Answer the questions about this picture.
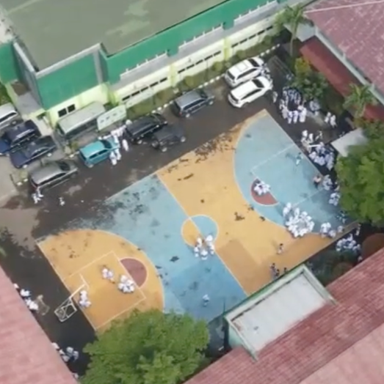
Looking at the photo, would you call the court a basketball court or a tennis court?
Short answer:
basketball court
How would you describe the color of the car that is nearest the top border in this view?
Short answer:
white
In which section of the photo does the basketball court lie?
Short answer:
center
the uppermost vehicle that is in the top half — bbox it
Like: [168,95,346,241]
[221,60,266,87]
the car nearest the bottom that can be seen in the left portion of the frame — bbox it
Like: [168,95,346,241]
[30,159,77,190]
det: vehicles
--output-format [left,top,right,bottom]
[172,91,215,118]
[48,99,112,147]
[221,60,266,87]
[228,78,273,108]
[120,115,167,144]
[30,159,77,190]
[0,103,21,128]
[78,140,116,166]
[10,136,57,169]
[0,125,39,154]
